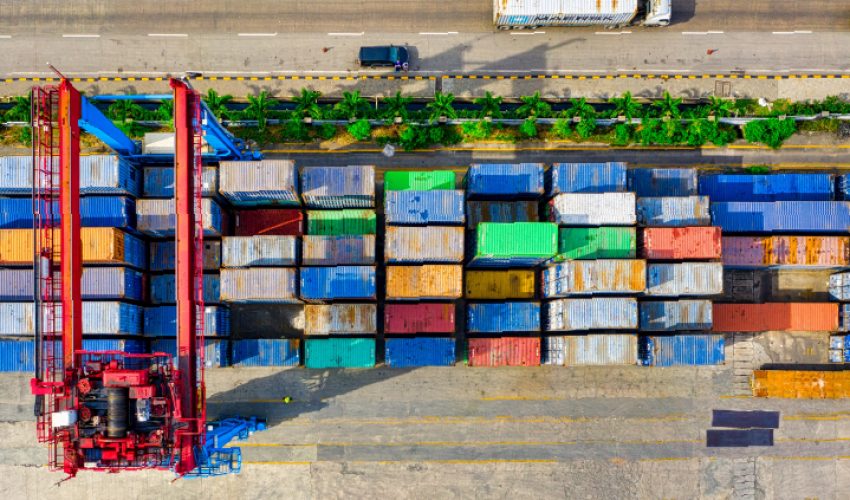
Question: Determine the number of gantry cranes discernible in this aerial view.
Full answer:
The picture shows just 1 gantry crane.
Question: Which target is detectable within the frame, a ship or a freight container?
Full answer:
This aerial view contains a freight container.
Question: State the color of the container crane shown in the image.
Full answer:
The color of the container crane is red.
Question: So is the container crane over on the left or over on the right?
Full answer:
You can find the container crane on the left side of the picture.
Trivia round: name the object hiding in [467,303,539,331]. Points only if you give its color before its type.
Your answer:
blue shipping container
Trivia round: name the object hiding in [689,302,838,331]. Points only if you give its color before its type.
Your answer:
red shipping container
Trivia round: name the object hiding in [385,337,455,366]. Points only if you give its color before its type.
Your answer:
blue shipping container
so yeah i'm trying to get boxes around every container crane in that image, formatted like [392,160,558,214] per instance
[32,69,272,488]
